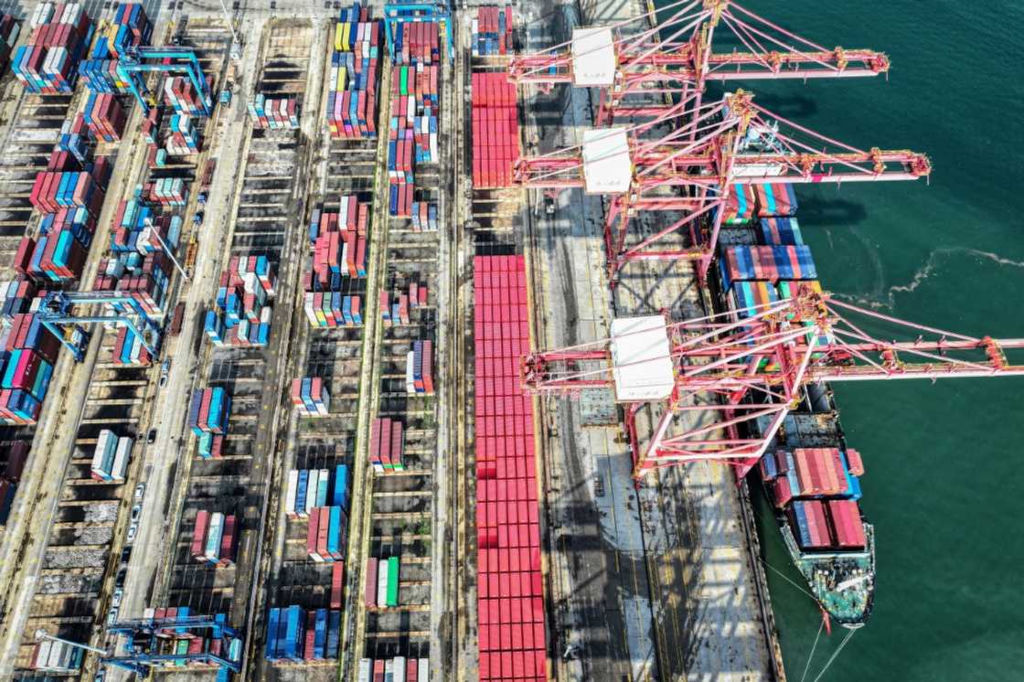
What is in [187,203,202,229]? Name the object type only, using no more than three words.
vehicle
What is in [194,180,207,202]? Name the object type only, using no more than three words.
vehicle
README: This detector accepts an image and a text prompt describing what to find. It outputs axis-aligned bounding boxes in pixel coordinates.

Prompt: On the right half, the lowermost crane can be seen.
[530,290,1024,503]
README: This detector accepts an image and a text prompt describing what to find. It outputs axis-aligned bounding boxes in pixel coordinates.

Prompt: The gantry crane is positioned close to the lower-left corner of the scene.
[96,621,245,681]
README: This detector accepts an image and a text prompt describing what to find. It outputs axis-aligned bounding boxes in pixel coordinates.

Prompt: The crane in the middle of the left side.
[33,288,163,364]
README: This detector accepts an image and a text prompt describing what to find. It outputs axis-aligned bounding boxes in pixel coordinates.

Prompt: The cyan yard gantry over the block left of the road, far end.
[116,44,215,118]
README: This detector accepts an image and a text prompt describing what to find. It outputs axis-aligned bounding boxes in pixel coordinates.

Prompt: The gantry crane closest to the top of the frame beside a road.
[385,0,454,67]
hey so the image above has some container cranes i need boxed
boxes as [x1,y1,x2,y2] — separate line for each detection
[96,621,245,681]
[116,44,215,118]
[503,0,897,193]
[530,290,1024,503]
[508,94,940,299]
[33,288,163,364]
[385,0,454,67]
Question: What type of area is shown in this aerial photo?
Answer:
port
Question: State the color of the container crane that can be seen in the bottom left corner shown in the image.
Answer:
blue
